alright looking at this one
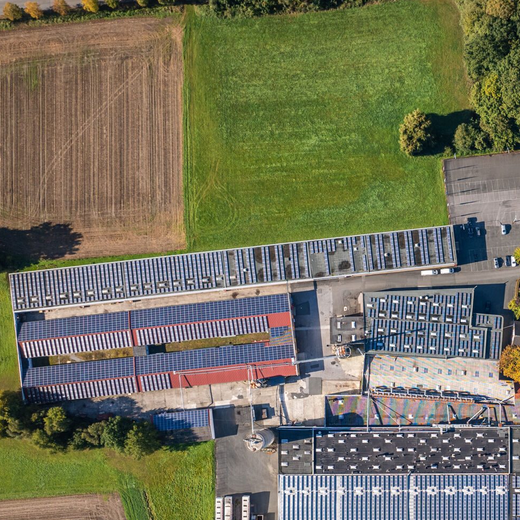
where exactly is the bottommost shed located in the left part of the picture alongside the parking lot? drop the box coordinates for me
[24,341,299,403]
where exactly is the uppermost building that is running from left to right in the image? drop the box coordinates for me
[9,224,458,313]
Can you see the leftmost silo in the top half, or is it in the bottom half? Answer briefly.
bottom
